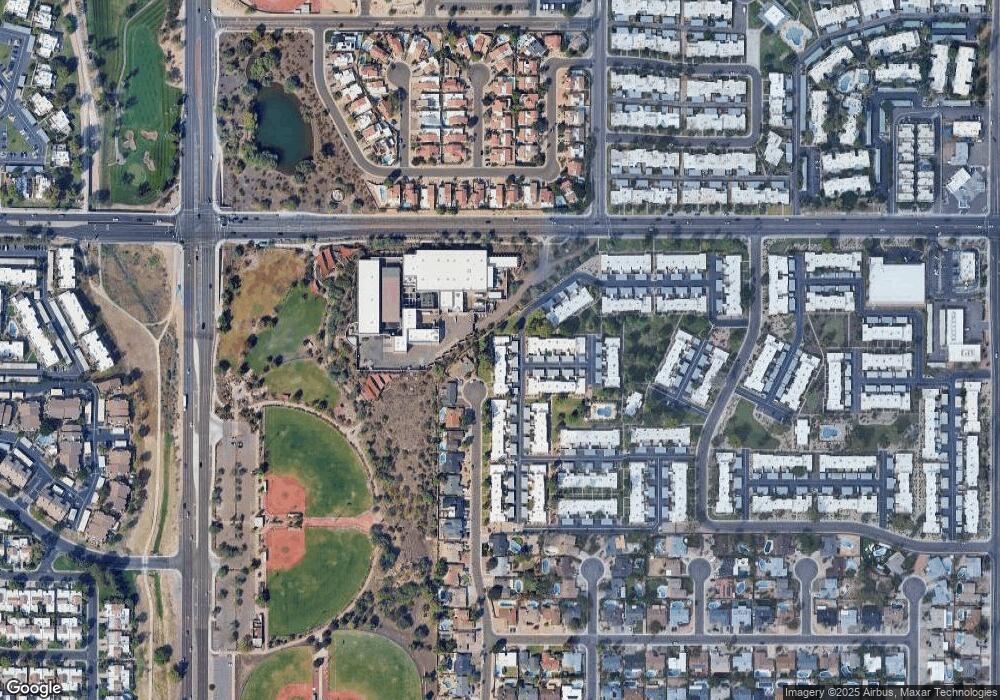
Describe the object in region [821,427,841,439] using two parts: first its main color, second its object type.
blue swimming pool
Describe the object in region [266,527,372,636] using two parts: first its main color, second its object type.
green baseball field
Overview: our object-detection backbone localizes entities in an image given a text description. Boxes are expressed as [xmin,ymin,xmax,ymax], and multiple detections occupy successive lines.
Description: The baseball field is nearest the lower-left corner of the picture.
[241,645,313,700]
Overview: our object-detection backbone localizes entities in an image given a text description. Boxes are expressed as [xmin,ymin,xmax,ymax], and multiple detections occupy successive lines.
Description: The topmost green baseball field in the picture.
[265,407,373,517]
